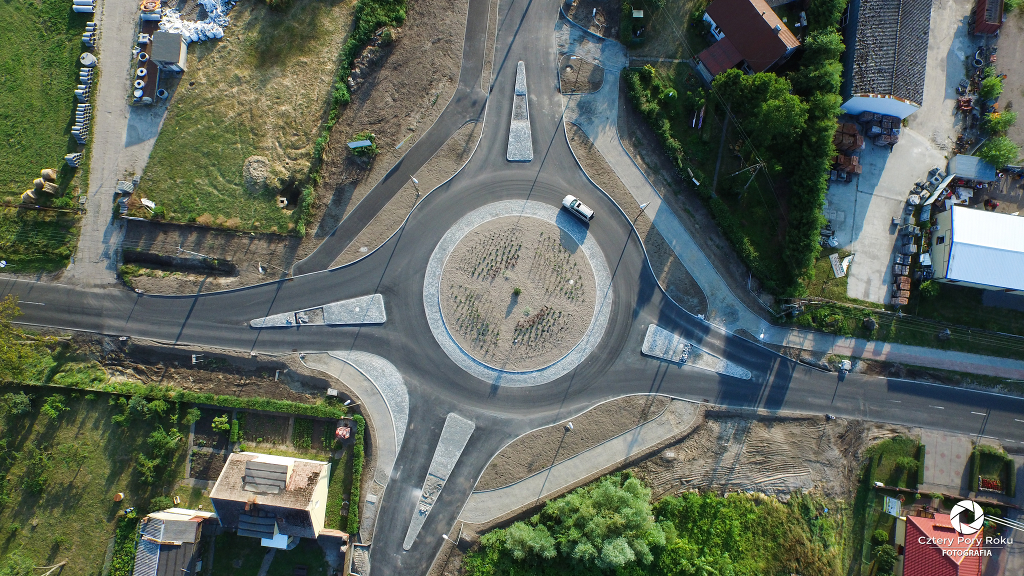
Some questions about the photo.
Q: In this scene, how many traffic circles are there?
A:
one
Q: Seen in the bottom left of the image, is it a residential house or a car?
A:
residential house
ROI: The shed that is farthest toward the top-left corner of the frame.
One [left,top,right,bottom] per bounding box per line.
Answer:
[150,31,190,70]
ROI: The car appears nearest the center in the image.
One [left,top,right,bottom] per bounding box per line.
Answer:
[560,194,598,224]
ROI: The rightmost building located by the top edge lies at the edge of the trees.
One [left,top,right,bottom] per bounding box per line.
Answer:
[839,0,930,116]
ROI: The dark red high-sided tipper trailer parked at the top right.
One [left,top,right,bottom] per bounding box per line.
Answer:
[978,0,1014,38]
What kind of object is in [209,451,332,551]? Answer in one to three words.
house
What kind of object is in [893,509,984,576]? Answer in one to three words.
house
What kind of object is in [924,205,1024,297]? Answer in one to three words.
building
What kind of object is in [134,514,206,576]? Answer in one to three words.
shed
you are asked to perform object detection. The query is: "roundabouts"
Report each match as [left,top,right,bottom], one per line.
[388,166,648,425]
